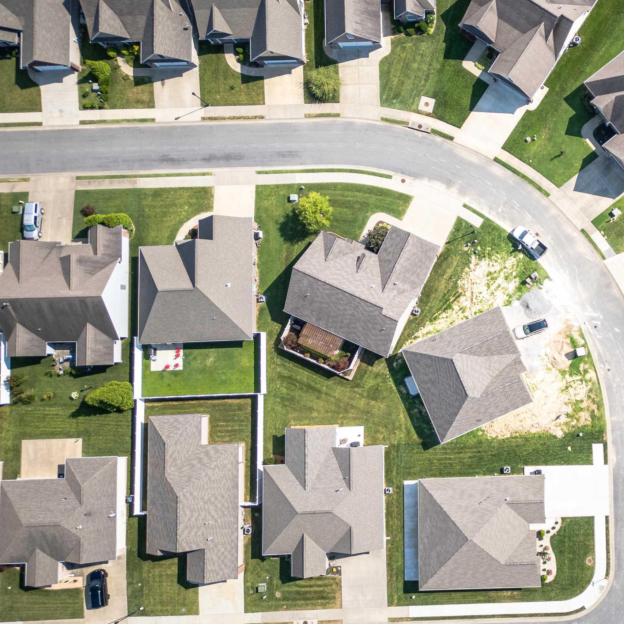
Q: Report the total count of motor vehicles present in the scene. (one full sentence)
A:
In total, there are 4 motor vehicles in the scene.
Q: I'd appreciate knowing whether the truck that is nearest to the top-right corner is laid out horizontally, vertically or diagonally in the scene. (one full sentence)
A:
What the image shows is the truck that is nearest to the top-right corner lying diagonally.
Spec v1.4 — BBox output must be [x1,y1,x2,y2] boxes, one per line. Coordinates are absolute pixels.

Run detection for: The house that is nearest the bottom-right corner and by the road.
[419,474,545,591]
